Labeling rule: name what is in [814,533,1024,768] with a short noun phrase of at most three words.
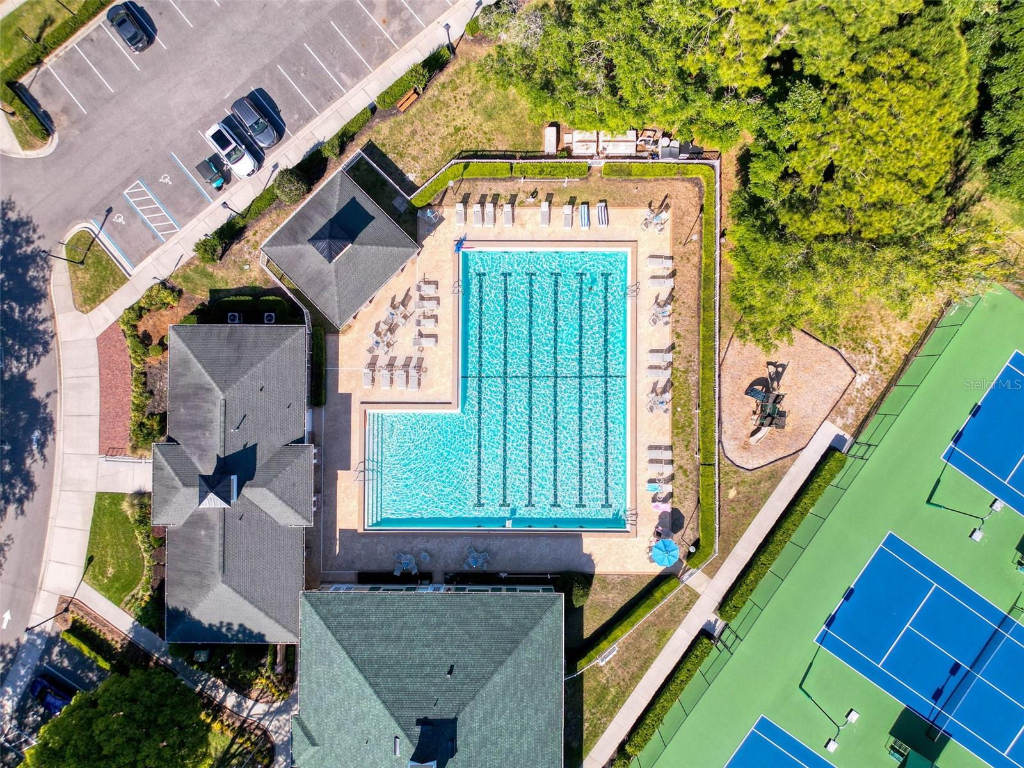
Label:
tennis court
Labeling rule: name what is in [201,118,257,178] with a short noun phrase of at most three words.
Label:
car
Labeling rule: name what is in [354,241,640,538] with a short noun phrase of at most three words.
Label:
swimming pool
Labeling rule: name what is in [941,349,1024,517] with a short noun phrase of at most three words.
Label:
tennis court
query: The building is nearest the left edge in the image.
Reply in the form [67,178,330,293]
[150,323,328,645]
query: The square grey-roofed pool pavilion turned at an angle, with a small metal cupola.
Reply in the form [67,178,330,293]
[260,167,423,328]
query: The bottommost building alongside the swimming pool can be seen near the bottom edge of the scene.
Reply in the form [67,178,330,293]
[290,581,565,768]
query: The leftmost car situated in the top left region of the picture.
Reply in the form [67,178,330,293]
[100,0,150,54]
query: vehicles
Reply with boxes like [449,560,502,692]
[201,118,257,178]
[100,0,150,54]
[192,156,227,192]
[227,92,280,149]
[24,683,75,727]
